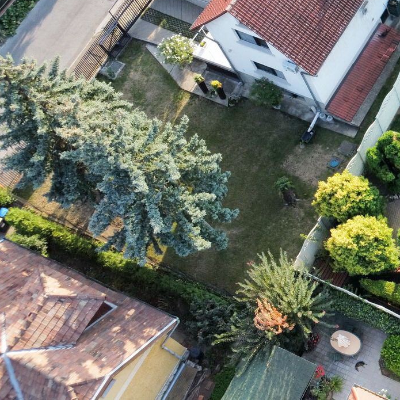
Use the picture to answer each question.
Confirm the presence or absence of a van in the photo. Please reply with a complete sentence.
No, the photo shows no van.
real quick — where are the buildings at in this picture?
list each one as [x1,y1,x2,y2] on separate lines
[170,0,400,125]
[215,344,321,400]
[0,242,194,400]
